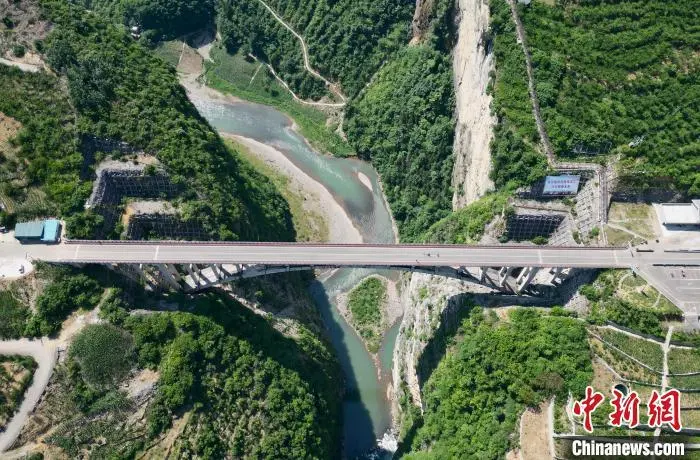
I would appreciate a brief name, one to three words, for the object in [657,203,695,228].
building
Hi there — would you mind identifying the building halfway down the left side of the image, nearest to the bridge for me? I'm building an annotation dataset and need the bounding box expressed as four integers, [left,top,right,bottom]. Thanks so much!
[42,219,64,244]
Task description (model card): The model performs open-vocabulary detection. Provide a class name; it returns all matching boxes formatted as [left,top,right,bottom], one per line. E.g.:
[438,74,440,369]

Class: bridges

[59,241,636,290]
